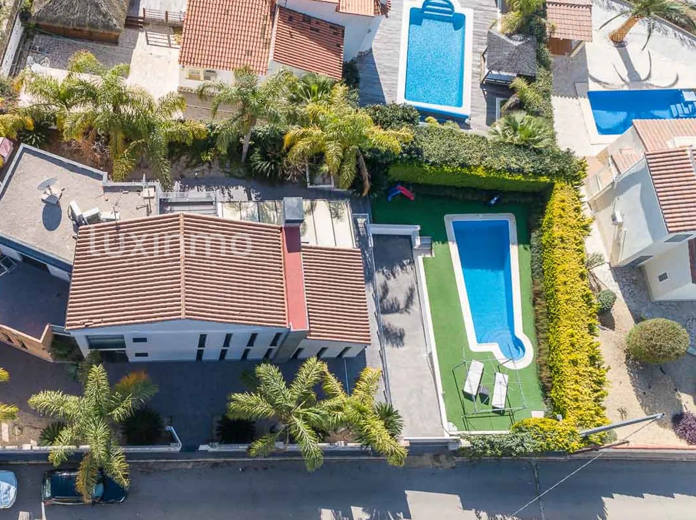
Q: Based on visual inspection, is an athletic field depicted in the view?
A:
No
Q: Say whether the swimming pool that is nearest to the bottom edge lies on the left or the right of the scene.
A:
right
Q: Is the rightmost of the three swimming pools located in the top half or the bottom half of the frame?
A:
top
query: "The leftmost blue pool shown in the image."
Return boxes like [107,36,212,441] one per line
[400,0,471,113]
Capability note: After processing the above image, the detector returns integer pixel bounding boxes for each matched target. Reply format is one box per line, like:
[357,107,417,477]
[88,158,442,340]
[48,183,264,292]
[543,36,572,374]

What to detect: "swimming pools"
[400,0,471,113]
[446,215,532,368]
[579,83,696,141]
